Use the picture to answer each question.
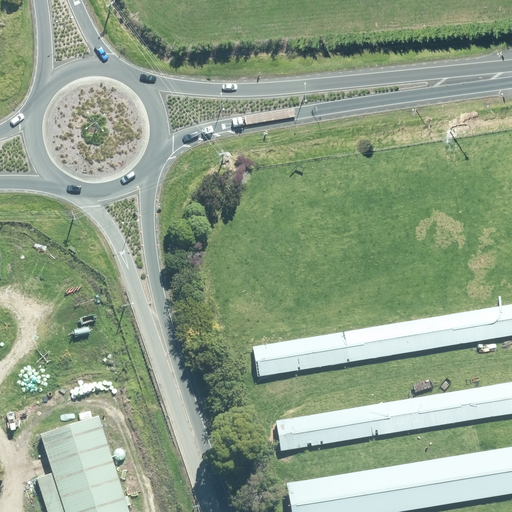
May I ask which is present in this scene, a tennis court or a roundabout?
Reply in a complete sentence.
There is a roundabout in the scene.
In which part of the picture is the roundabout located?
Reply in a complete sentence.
The roundabout sits in the top left section of the image.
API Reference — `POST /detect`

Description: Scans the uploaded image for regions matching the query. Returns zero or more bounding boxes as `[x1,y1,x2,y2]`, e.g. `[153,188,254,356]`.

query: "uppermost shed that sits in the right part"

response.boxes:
[254,296,512,377]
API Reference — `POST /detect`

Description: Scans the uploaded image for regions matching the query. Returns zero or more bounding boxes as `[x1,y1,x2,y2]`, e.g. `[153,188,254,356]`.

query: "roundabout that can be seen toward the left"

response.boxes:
[18,52,174,207]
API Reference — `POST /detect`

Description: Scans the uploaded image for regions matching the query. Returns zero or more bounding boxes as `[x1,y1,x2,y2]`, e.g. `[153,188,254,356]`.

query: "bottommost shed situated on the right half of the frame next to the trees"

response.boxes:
[287,446,512,512]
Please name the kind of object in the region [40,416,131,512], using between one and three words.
barn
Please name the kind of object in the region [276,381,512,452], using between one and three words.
shed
